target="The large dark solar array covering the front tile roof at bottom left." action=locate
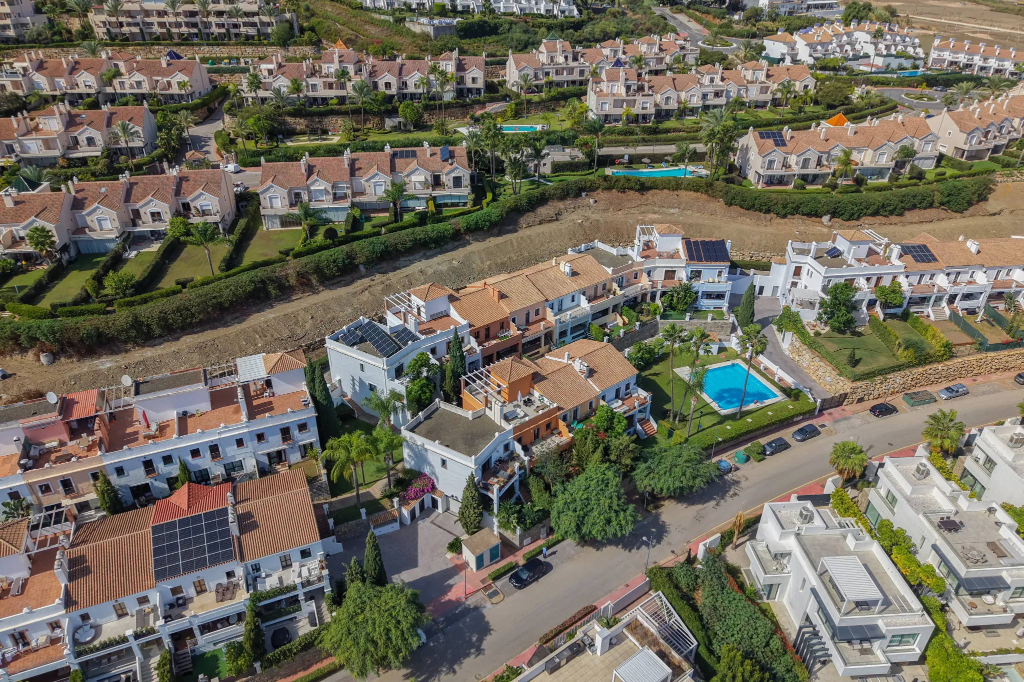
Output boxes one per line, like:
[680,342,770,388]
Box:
[151,510,234,580]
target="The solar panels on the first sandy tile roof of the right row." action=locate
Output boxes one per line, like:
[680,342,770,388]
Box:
[902,246,935,262]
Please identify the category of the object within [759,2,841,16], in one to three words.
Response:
building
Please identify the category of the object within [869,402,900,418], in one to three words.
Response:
car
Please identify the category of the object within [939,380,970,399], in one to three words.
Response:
car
